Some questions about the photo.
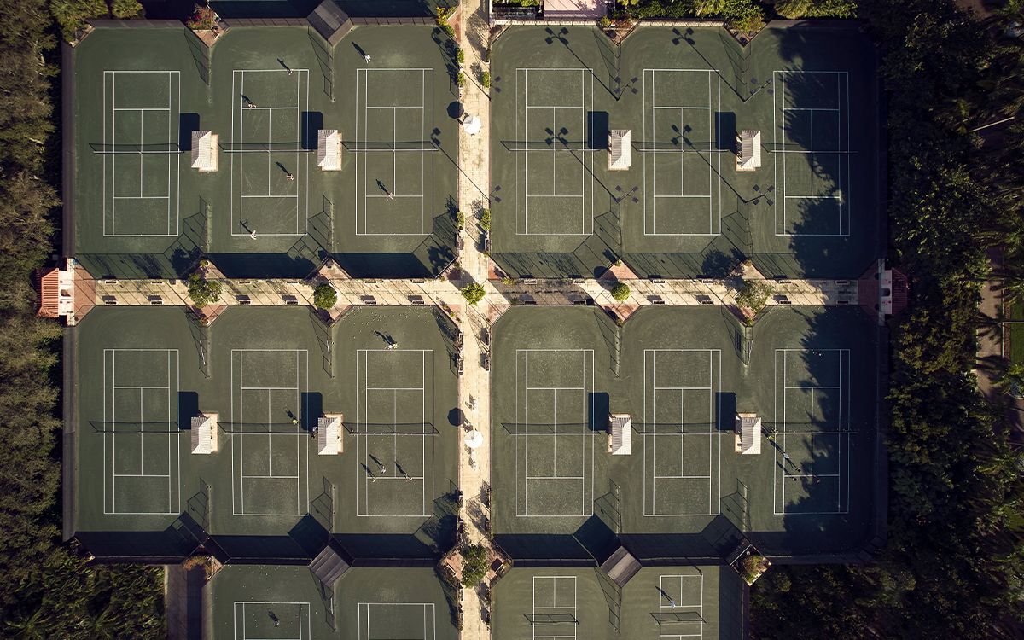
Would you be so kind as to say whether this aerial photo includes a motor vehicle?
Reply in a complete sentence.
No, no motor vehicle is visible in the scene.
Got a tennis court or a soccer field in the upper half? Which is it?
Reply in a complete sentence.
You can see a tennis court in the upper half.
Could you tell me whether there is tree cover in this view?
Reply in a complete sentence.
Yes, tree cover shows up in the scene.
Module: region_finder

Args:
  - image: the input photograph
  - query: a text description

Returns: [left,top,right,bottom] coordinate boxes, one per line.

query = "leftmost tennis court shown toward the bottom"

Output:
[75,306,208,558]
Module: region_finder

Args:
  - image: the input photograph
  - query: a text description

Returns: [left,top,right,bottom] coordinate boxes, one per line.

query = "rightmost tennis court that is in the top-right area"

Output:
[747,26,877,279]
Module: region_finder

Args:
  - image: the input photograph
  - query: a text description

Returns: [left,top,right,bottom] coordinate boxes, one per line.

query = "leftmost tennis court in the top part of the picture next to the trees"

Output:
[75,26,208,278]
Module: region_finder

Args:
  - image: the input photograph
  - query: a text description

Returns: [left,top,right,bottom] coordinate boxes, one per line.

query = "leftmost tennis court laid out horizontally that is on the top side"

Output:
[212,0,321,24]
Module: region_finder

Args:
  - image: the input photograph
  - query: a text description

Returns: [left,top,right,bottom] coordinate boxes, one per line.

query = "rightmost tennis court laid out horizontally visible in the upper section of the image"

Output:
[332,0,458,21]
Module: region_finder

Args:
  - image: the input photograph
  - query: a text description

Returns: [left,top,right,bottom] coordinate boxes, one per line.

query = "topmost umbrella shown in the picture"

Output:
[462,114,478,131]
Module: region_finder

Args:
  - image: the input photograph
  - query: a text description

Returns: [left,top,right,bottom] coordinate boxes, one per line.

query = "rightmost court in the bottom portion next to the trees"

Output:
[747,306,877,558]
